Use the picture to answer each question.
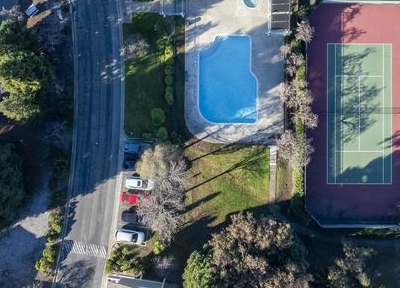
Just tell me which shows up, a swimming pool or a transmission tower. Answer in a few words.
swimming pool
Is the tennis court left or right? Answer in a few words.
right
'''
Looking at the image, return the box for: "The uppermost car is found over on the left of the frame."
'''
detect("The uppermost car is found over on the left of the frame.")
[123,141,149,154]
